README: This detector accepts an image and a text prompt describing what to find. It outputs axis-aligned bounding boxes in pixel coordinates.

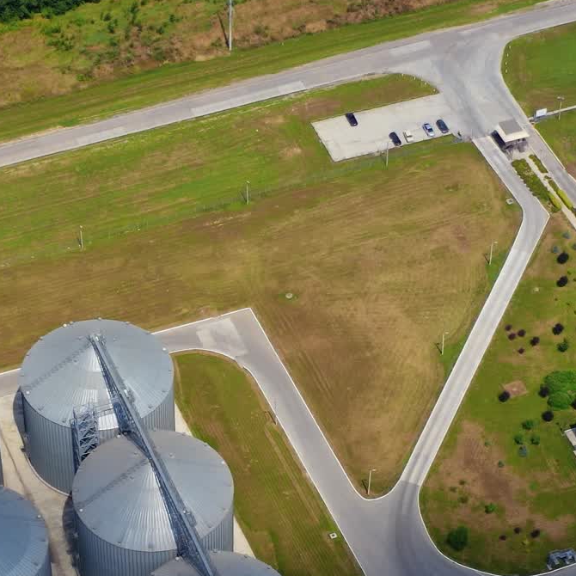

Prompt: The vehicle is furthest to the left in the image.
[346,111,359,126]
